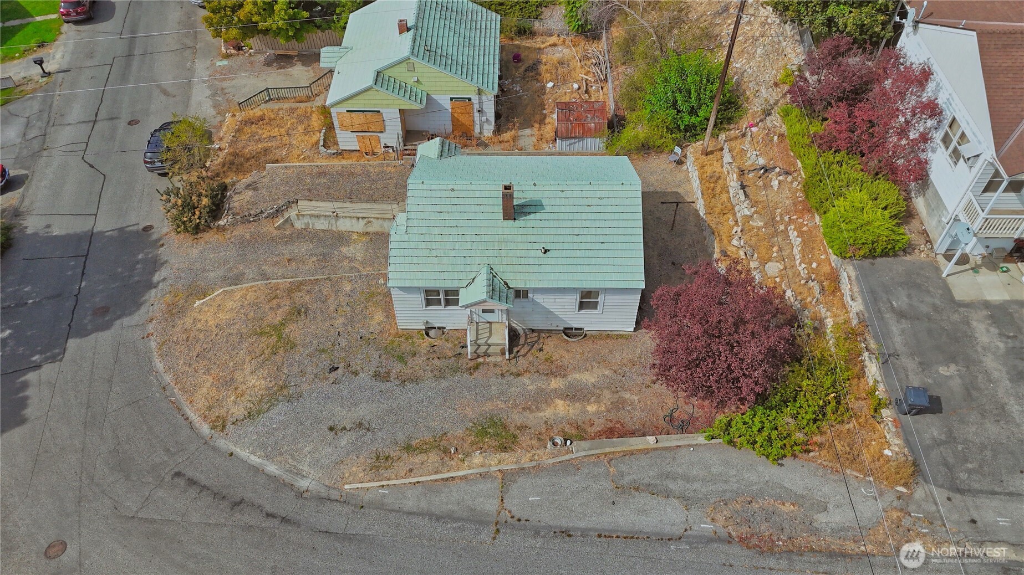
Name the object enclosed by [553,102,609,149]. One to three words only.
shed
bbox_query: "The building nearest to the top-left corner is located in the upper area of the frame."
[318,0,499,154]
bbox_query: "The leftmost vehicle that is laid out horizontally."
[56,0,105,22]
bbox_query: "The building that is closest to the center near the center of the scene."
[386,137,647,362]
